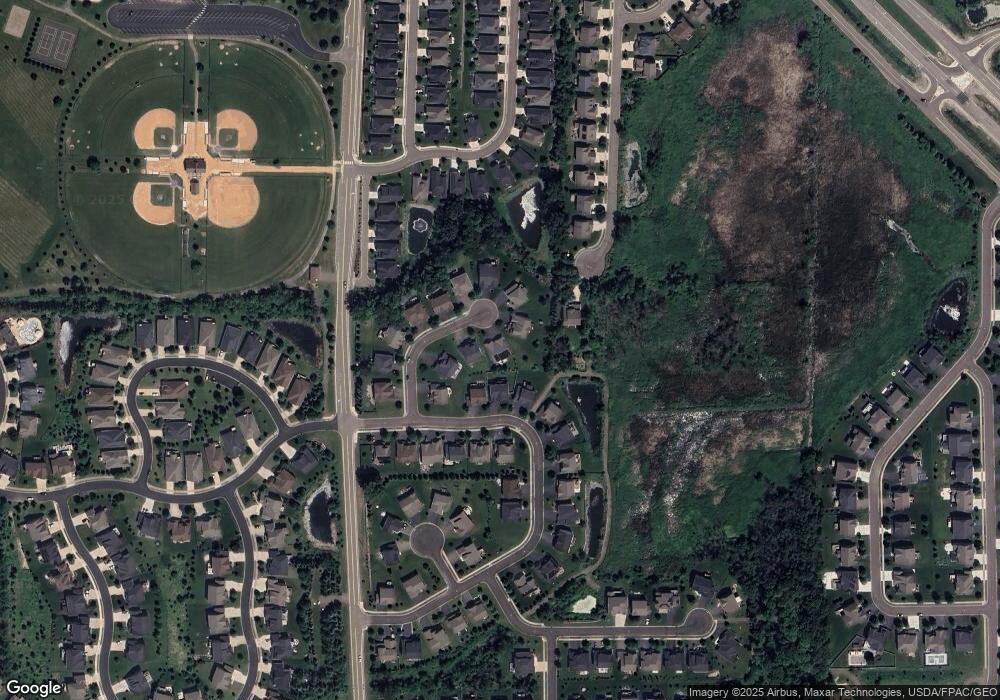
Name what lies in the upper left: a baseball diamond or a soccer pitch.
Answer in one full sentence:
Visible in the upper left is a baseball diamond.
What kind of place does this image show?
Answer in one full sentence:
What you see here is a residential area.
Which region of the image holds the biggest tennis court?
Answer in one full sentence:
You can find the biggest tennis court in the top left area of the picture.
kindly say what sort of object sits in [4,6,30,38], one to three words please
sports court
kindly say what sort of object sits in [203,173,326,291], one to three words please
baseball field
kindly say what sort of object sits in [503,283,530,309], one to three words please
house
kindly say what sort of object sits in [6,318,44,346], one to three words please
swimming pool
